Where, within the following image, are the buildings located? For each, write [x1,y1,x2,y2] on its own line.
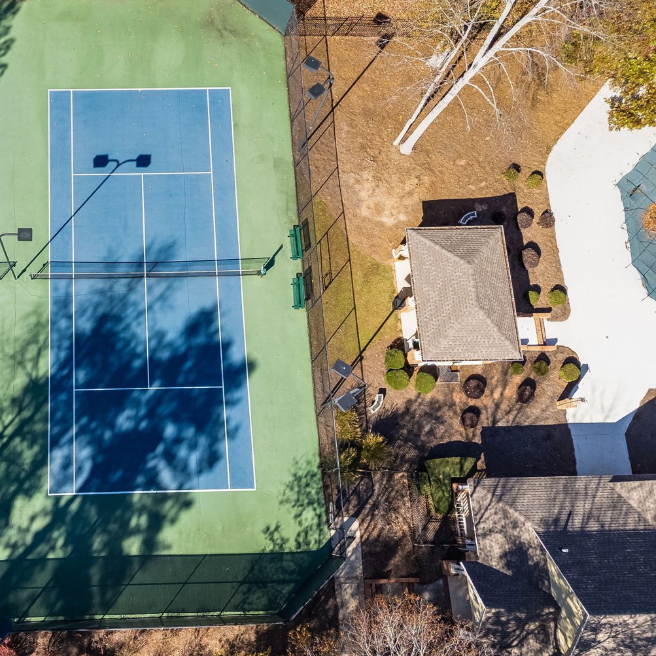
[390,224,526,369]
[419,473,656,656]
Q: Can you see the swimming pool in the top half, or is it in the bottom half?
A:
top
